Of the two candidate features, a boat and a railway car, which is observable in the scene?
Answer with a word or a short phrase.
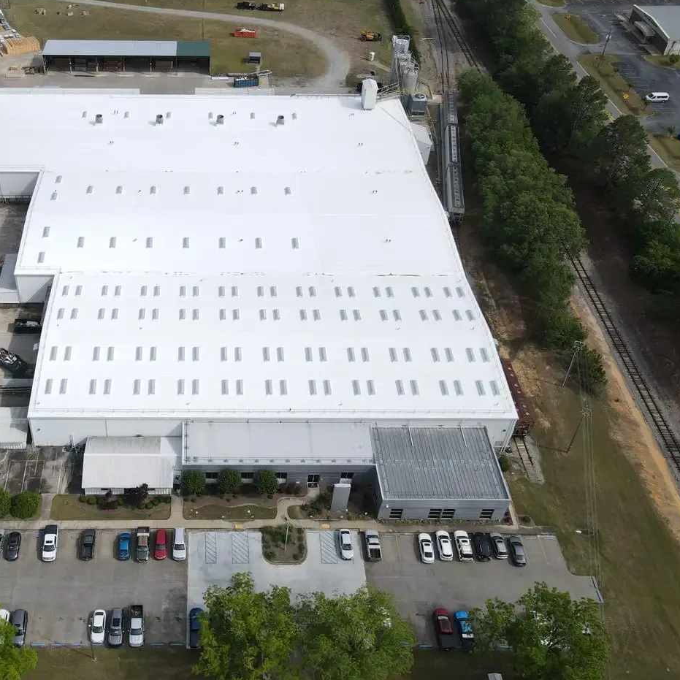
railway car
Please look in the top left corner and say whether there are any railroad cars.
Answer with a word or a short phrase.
No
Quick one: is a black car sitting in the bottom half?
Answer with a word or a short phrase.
Yes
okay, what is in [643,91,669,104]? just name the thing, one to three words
vehicle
